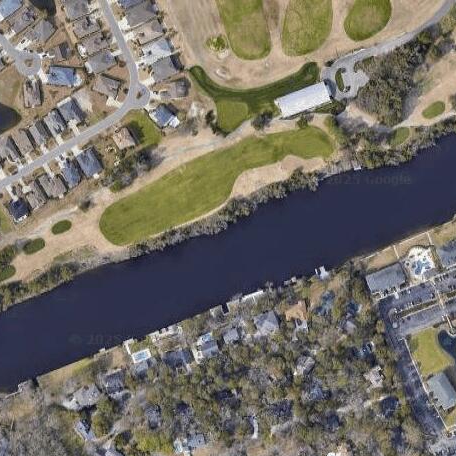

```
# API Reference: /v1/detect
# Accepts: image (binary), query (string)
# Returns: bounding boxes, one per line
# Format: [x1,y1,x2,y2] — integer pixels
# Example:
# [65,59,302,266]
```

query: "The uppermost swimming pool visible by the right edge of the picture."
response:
[405,245,435,280]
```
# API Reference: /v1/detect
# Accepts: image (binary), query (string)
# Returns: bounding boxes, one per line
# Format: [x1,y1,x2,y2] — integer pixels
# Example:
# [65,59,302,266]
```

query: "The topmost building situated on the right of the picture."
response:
[275,81,329,116]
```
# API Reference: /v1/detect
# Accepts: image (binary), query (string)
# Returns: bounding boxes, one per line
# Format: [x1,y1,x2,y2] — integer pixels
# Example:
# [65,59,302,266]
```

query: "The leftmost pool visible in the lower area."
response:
[132,348,152,363]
